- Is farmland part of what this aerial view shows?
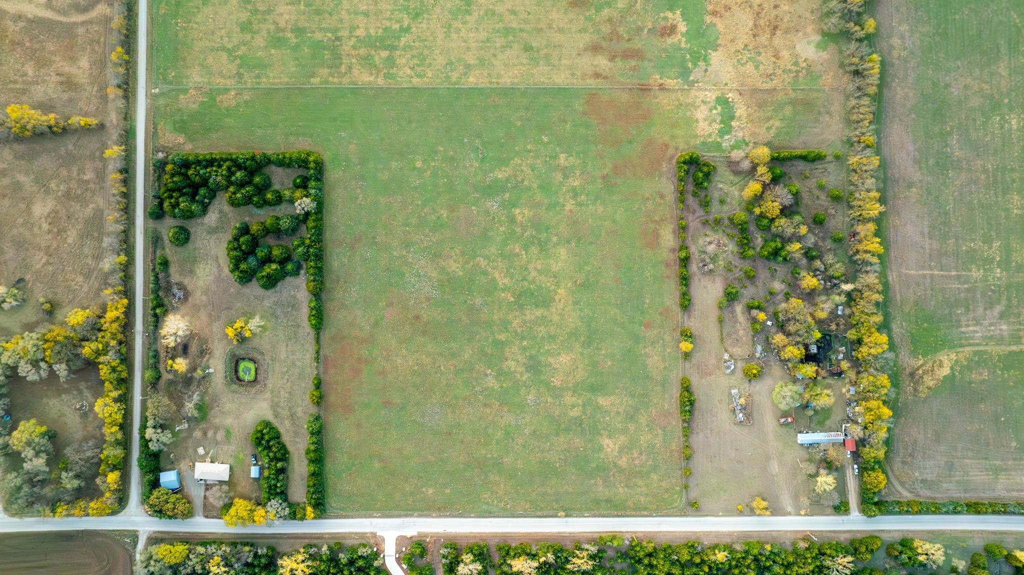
Yes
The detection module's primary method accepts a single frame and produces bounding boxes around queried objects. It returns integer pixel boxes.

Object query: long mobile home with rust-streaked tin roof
[796,431,843,447]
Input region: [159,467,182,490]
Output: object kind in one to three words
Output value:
building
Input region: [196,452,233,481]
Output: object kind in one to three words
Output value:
house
